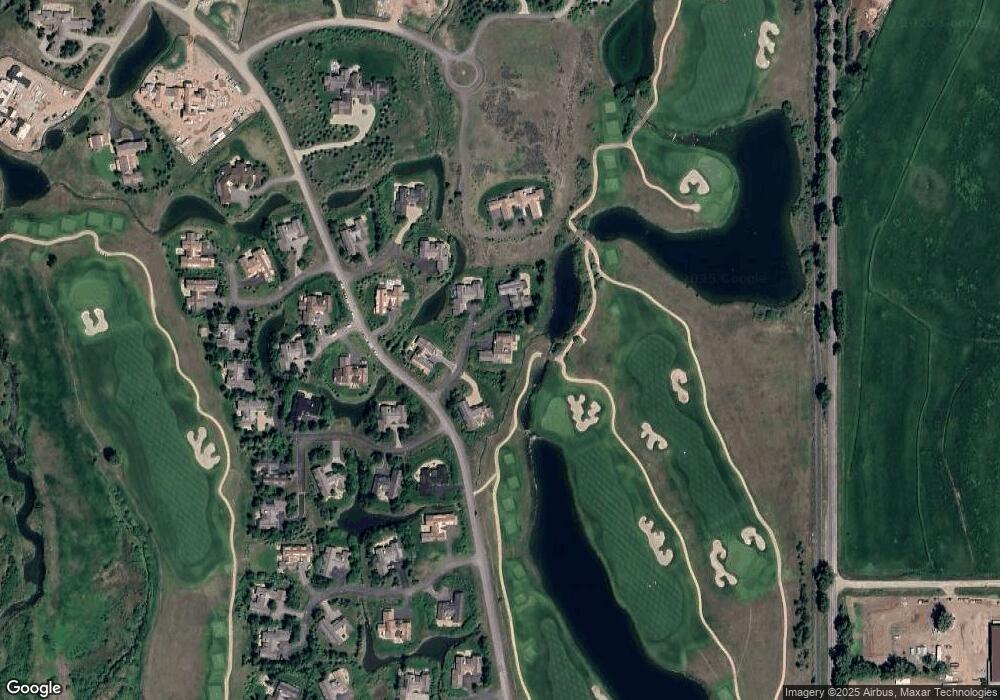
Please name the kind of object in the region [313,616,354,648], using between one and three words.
house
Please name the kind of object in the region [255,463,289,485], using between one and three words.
house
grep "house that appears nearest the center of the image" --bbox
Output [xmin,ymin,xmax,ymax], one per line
[479,332,521,365]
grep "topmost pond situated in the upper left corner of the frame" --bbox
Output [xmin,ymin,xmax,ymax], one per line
[108,8,172,99]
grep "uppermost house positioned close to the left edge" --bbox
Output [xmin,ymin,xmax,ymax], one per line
[27,1,92,37]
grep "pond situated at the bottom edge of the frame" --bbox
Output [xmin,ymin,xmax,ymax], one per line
[363,612,477,700]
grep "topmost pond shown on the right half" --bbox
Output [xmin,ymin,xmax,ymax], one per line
[603,0,656,86]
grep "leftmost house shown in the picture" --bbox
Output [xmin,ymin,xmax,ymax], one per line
[0,63,32,139]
